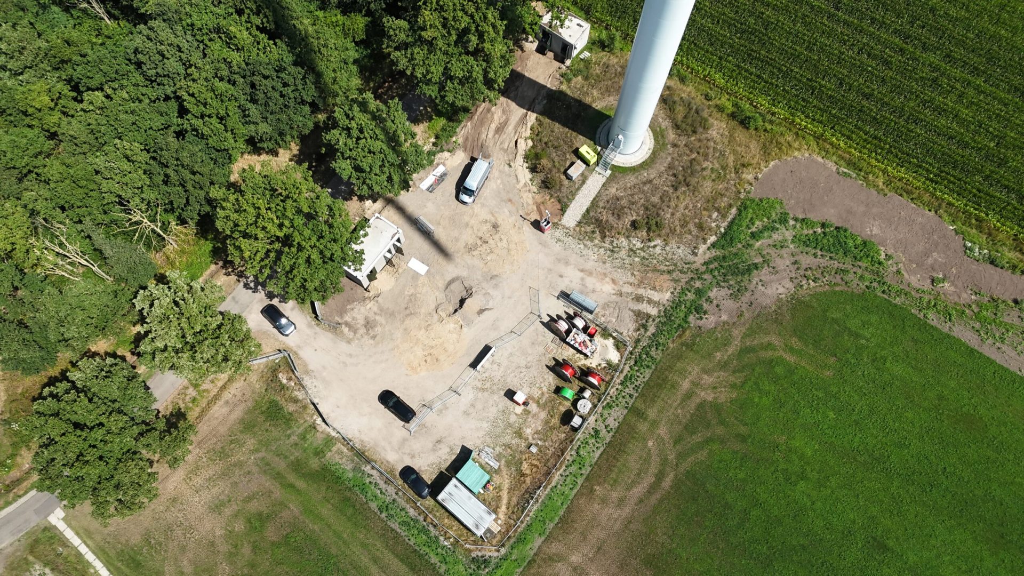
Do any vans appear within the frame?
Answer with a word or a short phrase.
Yes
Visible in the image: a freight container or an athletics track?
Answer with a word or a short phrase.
freight container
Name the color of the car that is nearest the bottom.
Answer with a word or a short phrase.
black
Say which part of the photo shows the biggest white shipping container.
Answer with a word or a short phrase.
bottom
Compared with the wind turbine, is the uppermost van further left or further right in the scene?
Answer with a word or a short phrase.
left of it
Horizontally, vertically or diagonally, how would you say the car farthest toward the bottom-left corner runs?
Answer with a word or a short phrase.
diagonally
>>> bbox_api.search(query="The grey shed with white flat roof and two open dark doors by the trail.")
[541,9,593,61]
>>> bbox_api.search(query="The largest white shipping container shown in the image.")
[437,478,496,547]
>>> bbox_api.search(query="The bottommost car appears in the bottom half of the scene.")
[395,462,434,503]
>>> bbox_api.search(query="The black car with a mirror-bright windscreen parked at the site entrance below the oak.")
[259,303,298,338]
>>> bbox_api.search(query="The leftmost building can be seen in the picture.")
[336,215,405,287]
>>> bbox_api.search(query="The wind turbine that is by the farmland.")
[595,0,695,179]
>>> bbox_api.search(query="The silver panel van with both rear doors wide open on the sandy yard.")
[458,153,499,205]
